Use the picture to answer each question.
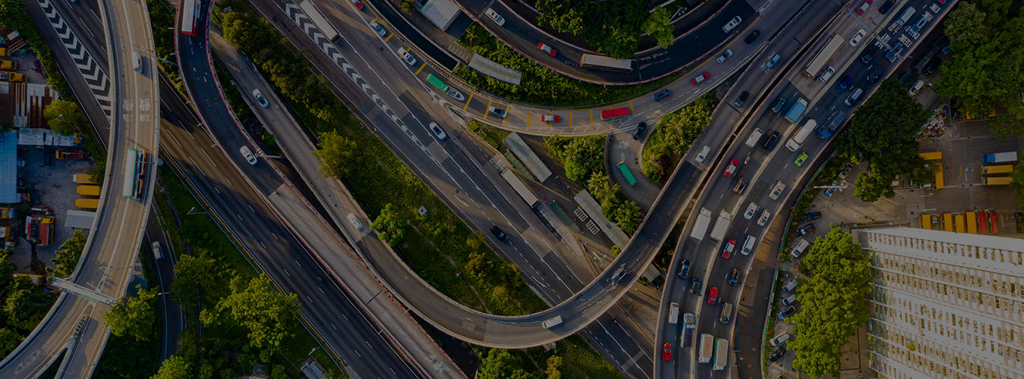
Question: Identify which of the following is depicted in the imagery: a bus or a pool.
bus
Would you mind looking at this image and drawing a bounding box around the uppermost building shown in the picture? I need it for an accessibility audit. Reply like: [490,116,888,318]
[420,0,461,34]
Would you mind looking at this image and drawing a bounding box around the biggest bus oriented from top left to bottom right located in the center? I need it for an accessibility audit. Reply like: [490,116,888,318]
[499,166,542,208]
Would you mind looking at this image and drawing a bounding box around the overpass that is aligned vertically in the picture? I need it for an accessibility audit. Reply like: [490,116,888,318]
[0,0,161,379]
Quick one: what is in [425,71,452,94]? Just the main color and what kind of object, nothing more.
green vehicle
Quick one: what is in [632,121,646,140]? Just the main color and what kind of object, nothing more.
black car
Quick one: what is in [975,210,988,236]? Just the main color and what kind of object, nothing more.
red vehicle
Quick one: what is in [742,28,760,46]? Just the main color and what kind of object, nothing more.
black car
